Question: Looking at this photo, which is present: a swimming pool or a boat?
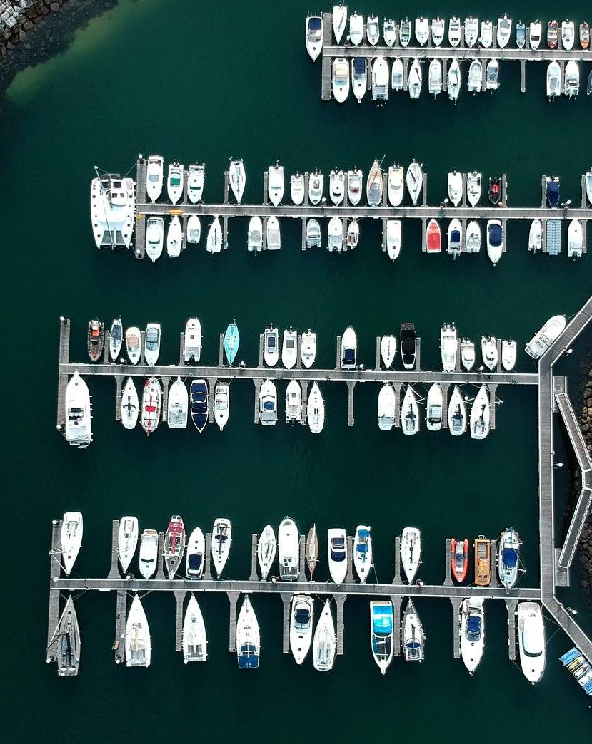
boat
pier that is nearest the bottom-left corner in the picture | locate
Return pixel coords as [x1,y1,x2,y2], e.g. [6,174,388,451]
[47,590,60,662]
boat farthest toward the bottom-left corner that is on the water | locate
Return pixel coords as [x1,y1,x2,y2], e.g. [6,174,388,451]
[50,594,86,676]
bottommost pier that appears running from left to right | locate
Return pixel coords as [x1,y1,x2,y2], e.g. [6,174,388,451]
[50,578,541,600]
